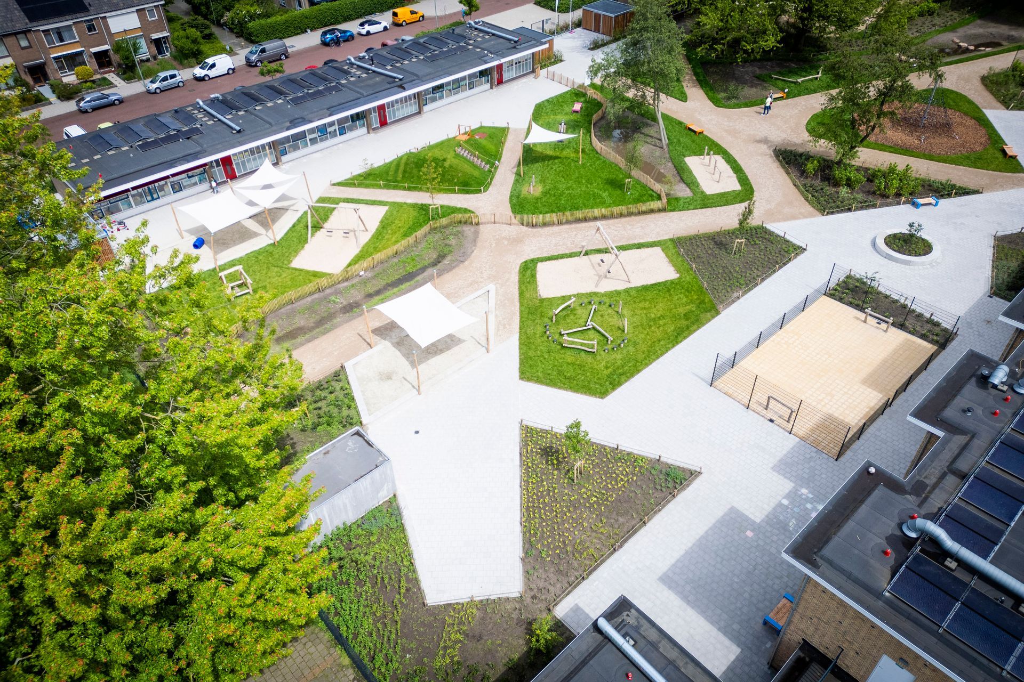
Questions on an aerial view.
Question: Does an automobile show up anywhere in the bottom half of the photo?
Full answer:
No, no automobile appears in the bottom half of the photo.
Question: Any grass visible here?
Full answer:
Yes, there's grass in this view.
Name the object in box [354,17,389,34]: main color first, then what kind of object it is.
white car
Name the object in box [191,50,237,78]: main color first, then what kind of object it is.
white van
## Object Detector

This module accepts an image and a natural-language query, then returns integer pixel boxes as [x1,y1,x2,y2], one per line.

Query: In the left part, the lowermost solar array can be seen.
[85,109,199,154]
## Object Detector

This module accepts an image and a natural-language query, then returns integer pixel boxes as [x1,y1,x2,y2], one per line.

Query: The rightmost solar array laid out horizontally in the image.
[367,31,466,66]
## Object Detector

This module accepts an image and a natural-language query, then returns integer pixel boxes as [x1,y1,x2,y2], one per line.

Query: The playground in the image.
[517,188,1024,682]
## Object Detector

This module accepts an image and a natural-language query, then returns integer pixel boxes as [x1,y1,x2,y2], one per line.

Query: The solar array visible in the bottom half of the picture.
[882,403,1024,682]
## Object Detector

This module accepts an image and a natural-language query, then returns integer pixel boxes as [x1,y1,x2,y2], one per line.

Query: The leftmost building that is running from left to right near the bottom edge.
[532,595,725,682]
